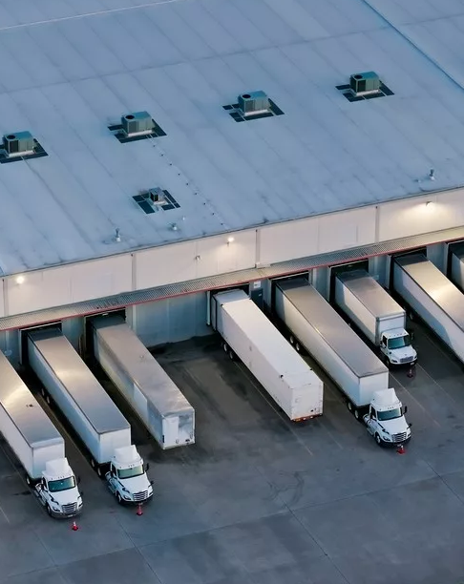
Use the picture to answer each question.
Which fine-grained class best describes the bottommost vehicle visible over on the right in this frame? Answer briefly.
truck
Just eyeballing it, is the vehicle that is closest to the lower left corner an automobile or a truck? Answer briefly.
truck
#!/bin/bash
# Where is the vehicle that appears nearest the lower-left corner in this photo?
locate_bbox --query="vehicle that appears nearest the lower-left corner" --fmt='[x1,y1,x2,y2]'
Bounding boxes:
[26,456,84,519]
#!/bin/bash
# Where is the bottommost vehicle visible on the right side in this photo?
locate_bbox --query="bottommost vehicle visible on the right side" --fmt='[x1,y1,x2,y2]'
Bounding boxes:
[341,388,410,449]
